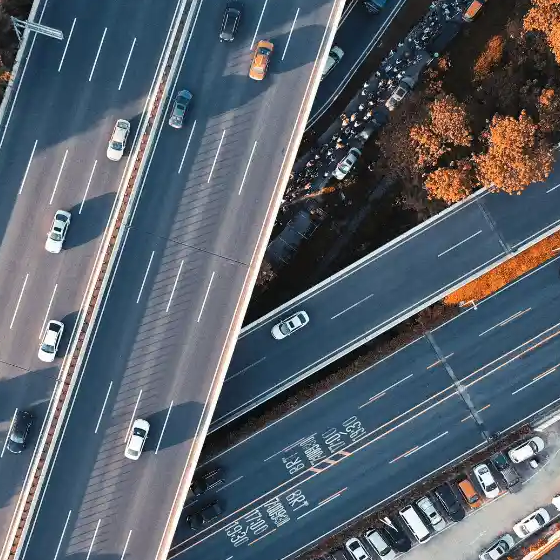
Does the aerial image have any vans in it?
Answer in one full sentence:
Yes, the frame does contain a van.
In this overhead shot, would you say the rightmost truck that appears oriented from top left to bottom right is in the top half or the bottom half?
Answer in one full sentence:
The rightmost truck that appears oriented from top left to bottom right is in the bottom half of the image.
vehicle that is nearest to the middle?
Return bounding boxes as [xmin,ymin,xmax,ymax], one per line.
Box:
[271,310,308,340]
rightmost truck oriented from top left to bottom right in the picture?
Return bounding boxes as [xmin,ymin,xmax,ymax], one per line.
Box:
[489,447,525,492]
